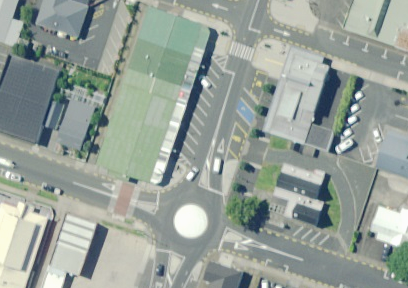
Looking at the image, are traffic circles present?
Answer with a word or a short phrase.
Yes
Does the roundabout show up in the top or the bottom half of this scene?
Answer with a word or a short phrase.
bottom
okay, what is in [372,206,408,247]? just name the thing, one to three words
house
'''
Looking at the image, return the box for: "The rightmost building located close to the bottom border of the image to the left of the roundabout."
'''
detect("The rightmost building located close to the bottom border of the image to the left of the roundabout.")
[51,215,96,276]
